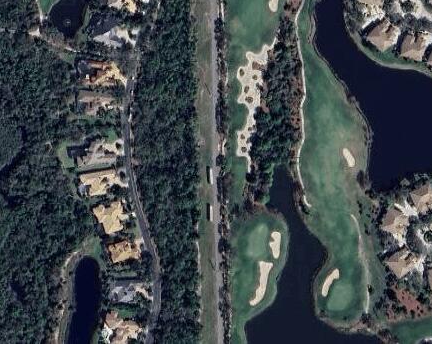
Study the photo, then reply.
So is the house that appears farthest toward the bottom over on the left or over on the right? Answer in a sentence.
The house that appears farthest toward the bottom sits on the left side.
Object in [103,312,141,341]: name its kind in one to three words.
house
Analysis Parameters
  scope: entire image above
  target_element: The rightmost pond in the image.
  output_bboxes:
[238,165,390,344]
